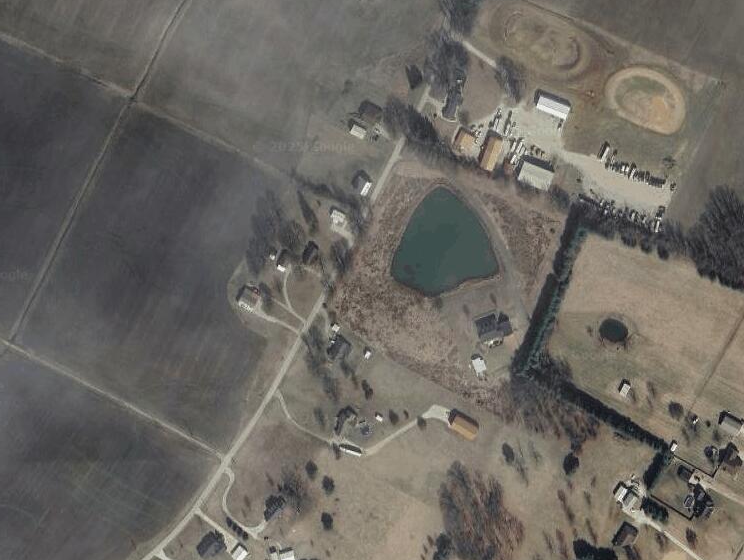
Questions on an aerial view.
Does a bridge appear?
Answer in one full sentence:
No, no bridge is visible in the scene.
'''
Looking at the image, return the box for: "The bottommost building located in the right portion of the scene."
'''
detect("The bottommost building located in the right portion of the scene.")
[614,523,637,547]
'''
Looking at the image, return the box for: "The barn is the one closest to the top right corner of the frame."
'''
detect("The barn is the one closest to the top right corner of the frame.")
[536,94,571,119]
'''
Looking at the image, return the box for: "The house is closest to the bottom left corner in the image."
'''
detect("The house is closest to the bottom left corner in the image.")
[196,529,226,558]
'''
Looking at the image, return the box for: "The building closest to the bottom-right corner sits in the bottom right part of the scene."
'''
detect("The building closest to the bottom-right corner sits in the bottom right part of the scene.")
[688,485,718,518]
